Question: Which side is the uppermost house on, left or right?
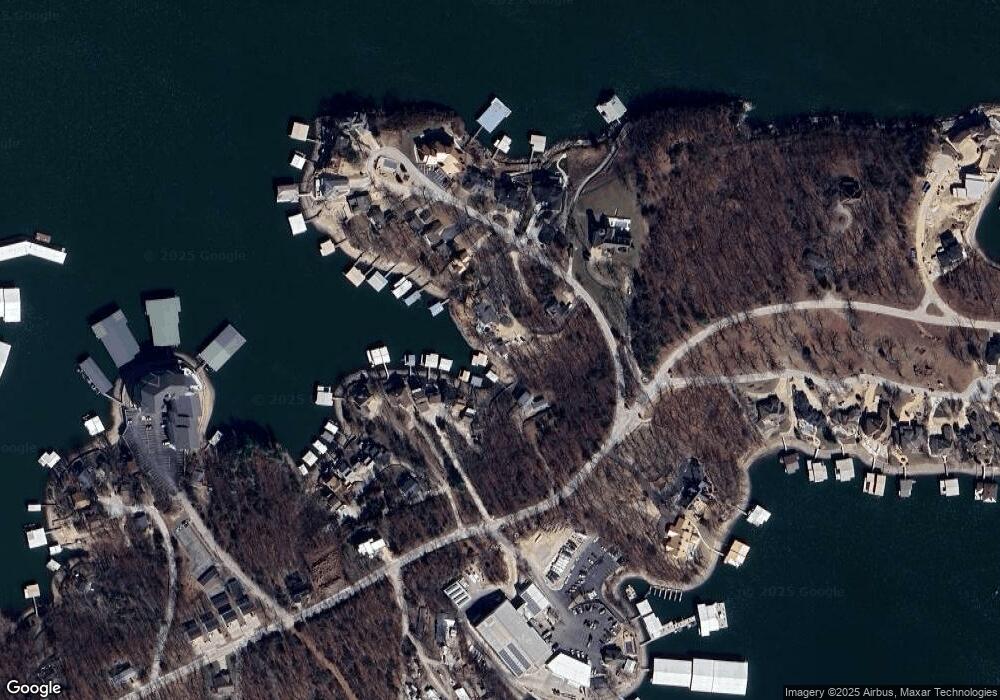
right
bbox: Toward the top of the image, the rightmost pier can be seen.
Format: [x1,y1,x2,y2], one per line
[598,96,626,127]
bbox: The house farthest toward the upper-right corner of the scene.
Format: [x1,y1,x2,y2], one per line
[946,116,993,145]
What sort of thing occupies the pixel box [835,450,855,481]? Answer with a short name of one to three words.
pier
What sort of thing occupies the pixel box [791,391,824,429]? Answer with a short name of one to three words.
house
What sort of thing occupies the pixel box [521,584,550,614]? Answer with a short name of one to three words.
building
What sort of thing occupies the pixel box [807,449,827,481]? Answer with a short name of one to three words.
pier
